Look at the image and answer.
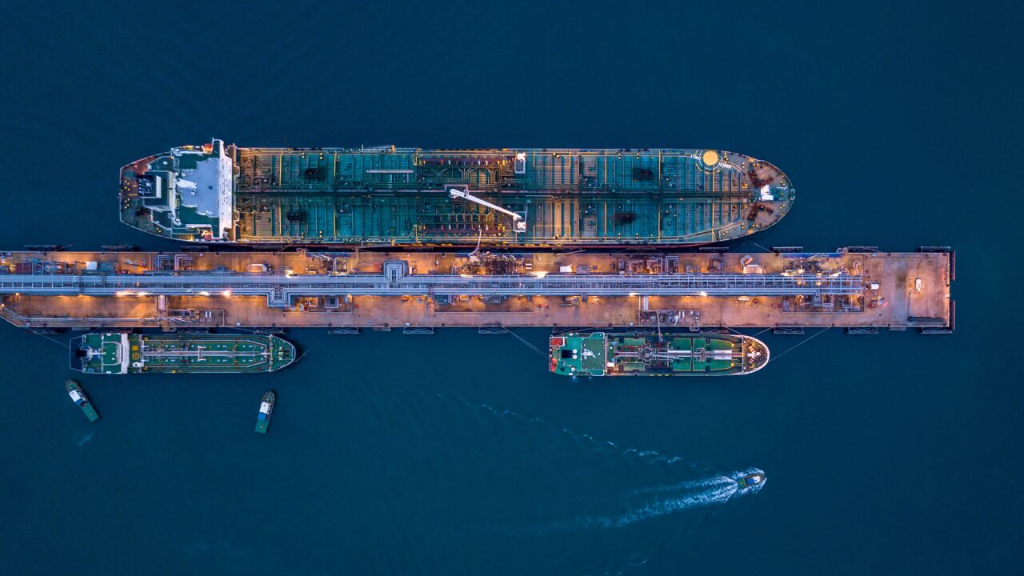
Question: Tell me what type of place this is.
port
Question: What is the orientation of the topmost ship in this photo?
horizontally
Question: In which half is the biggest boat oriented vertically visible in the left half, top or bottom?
bottom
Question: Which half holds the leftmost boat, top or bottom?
bottom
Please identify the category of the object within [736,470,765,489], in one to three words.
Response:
boat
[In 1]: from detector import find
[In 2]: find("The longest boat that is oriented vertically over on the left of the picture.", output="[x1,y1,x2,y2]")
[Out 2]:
[256,389,276,435]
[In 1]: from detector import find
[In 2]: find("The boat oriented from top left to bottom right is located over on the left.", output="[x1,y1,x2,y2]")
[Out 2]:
[64,379,101,424]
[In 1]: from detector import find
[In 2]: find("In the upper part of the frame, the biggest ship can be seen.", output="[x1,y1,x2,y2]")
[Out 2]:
[120,140,795,244]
